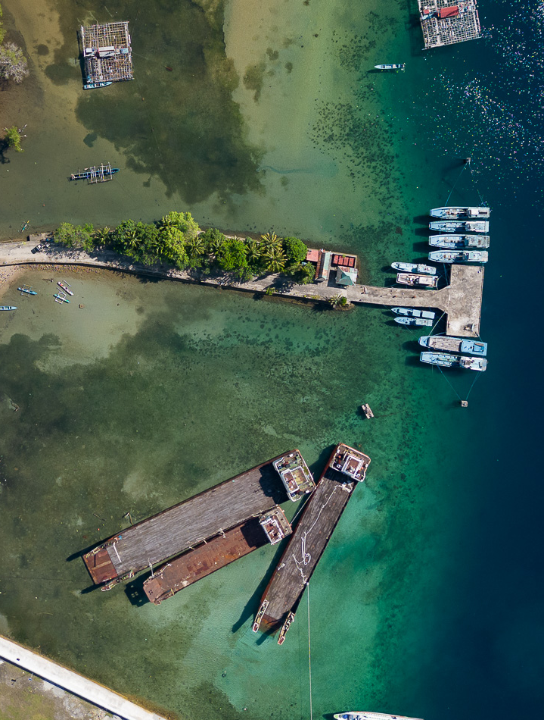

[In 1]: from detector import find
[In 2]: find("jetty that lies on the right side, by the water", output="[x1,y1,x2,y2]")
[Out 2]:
[347,265,484,338]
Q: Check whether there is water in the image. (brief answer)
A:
Yes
